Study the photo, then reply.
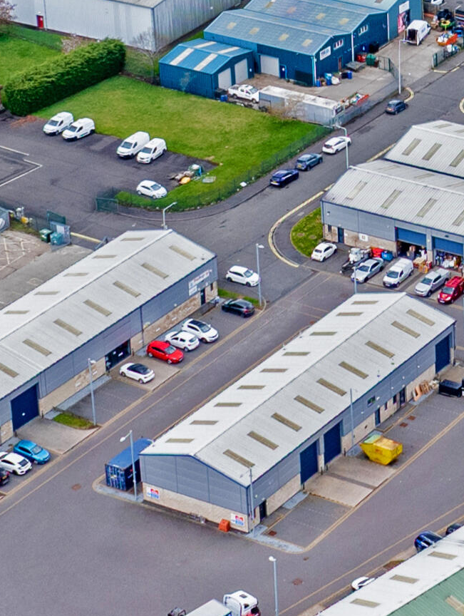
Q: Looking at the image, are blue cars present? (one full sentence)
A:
Yes, a blue car appears in the view.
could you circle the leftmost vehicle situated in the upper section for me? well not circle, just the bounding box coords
[45,113,72,134]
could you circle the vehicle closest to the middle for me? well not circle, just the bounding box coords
[220,299,256,317]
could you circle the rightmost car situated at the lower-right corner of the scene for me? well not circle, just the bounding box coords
[437,520,464,534]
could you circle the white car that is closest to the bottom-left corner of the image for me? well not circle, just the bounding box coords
[0,456,30,475]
